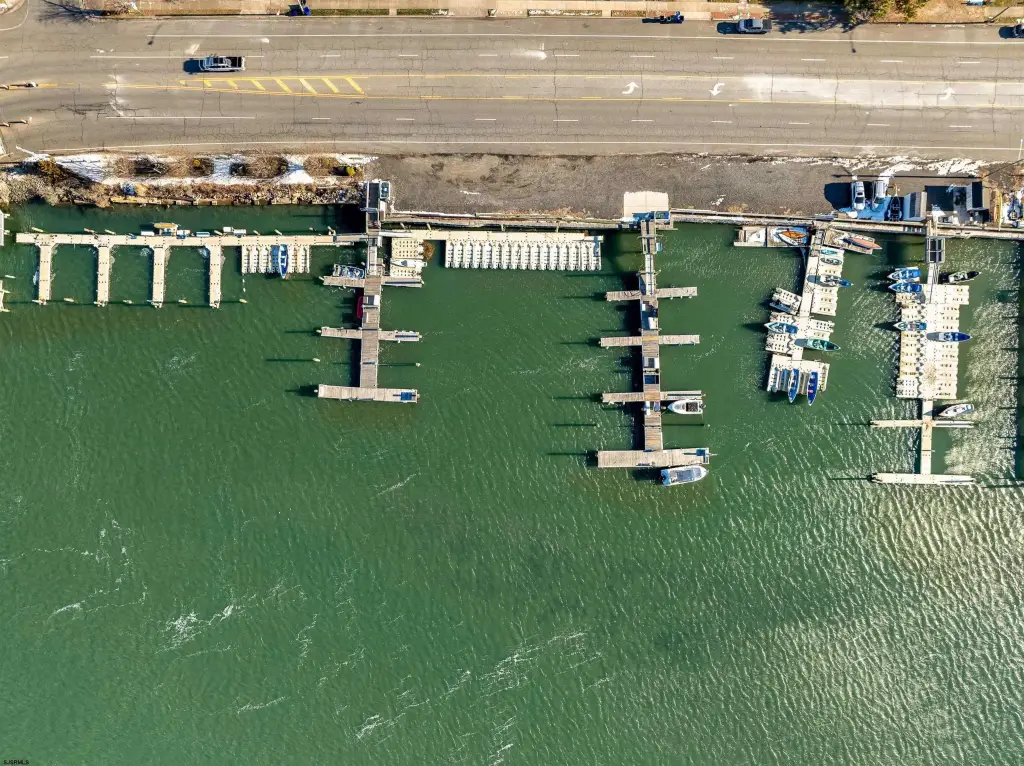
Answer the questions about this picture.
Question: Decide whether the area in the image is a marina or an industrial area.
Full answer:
The area seen from above is a marina.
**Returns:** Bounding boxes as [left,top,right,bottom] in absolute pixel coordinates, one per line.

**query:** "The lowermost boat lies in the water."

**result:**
[659,466,709,485]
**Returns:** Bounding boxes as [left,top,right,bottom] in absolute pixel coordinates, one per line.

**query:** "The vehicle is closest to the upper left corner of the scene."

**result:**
[201,54,245,73]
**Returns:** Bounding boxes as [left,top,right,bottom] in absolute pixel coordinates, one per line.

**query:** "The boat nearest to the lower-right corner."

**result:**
[938,402,975,417]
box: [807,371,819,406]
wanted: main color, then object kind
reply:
blue boat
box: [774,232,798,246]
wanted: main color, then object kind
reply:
white boat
